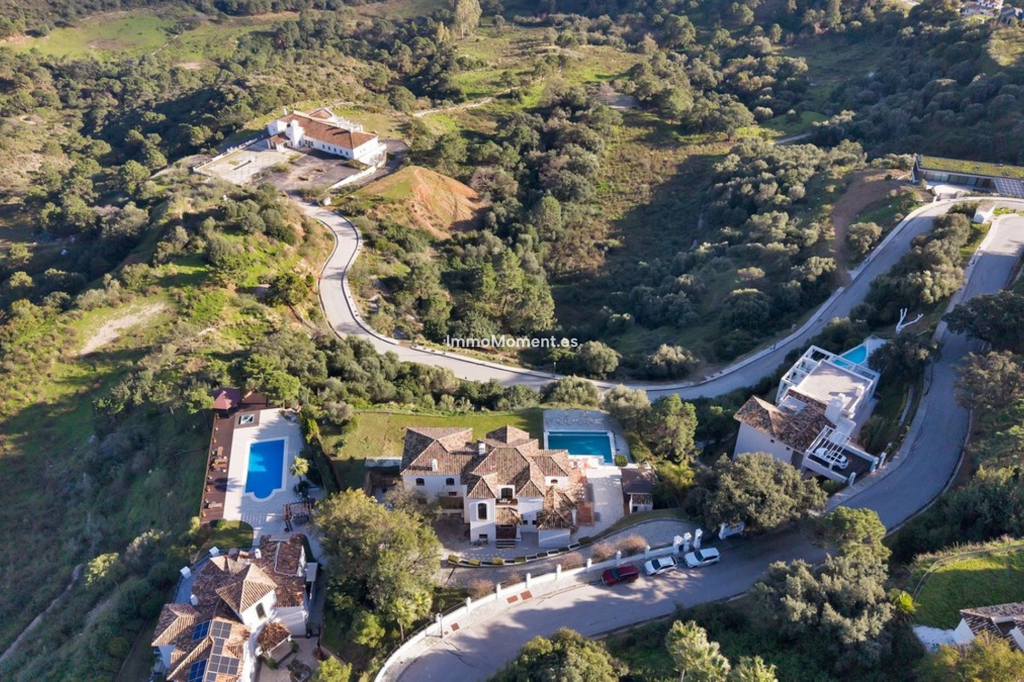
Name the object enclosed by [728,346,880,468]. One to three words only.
house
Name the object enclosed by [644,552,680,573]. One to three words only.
car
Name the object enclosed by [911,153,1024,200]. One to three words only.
building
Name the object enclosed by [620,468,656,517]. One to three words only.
shed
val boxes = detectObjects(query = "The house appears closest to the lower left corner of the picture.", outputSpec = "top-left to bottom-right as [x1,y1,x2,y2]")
[149,533,317,682]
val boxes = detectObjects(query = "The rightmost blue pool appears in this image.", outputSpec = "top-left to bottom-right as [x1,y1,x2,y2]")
[834,343,870,369]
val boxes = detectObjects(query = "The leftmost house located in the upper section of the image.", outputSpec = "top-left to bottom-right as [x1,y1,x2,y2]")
[266,106,387,163]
